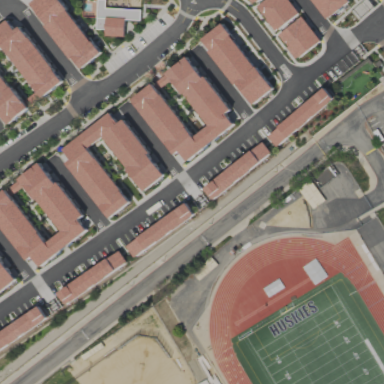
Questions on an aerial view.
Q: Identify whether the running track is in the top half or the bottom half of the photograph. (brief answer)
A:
bottom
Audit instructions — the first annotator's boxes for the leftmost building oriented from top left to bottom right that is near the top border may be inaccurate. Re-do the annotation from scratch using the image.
[30,0,100,68]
